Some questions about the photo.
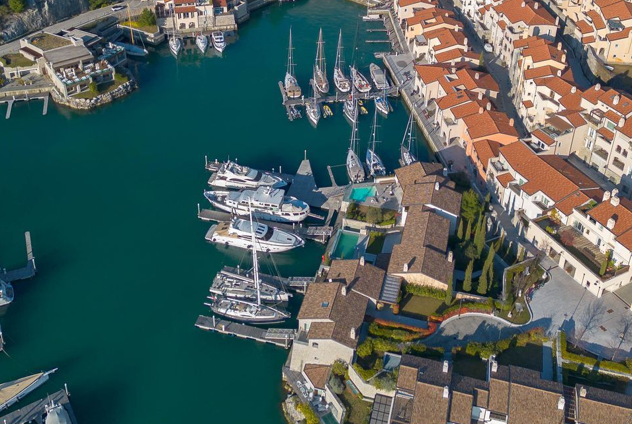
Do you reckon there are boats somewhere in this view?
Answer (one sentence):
Yes, this view includes a boat.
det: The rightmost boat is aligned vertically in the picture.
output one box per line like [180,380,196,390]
[399,109,415,168]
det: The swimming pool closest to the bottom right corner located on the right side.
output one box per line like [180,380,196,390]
[382,351,402,370]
